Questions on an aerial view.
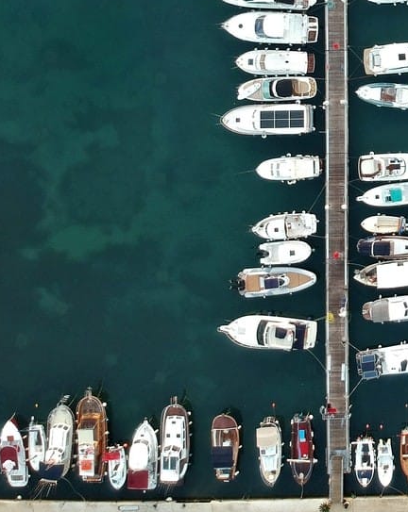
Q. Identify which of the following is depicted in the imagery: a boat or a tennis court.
boat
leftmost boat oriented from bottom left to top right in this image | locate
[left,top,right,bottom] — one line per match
[237,79,262,98]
